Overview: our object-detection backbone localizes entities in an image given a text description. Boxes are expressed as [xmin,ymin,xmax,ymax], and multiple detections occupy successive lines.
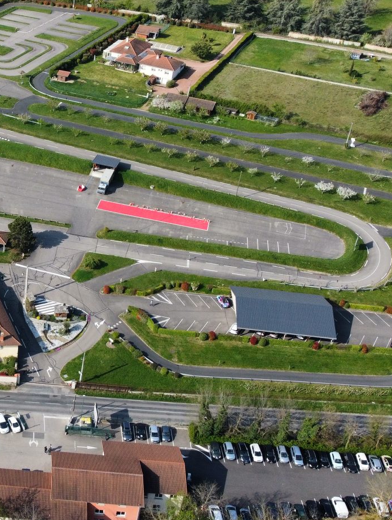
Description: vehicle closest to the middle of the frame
[216,295,230,307]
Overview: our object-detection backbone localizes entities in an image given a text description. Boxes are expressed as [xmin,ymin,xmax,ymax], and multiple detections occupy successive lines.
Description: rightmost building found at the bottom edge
[104,443,188,511]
